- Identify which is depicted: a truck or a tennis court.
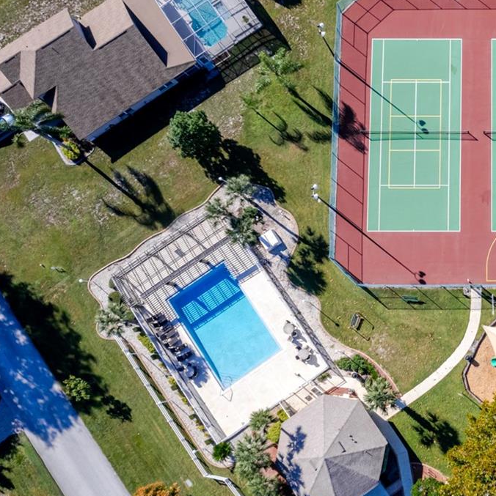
tennis court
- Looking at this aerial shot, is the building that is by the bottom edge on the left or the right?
right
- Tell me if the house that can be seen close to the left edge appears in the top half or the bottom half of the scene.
top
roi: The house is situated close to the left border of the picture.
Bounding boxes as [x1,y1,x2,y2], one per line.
[0,0,198,140]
